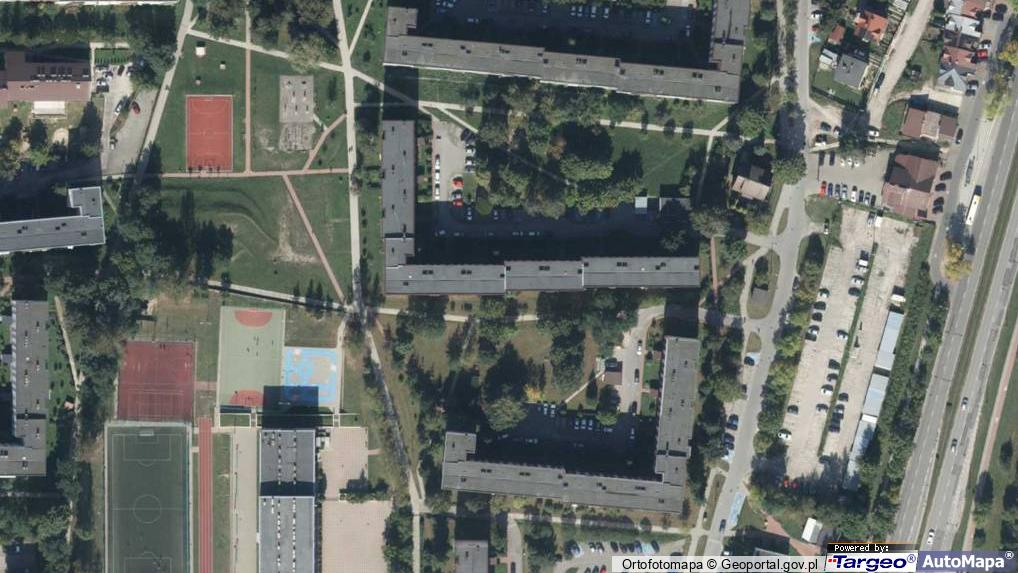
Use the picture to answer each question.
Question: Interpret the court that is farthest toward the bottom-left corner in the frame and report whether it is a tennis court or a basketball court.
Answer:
tennis court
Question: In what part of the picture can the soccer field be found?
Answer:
bottom left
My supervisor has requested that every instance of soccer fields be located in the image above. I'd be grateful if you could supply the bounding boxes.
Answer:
[104,420,192,573]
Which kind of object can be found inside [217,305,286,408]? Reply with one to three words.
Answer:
sports court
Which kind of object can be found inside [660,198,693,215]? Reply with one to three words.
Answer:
building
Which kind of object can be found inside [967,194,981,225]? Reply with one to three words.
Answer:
vehicle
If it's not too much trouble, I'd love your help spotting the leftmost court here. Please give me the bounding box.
[116,340,196,423]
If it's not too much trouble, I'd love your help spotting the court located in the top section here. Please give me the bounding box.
[186,95,233,171]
